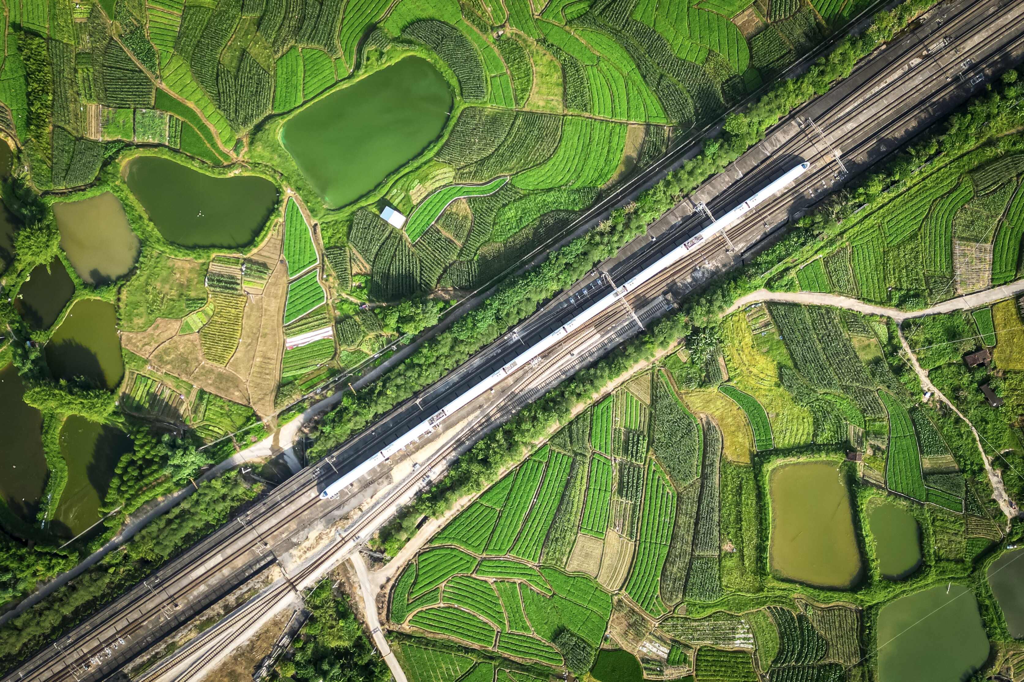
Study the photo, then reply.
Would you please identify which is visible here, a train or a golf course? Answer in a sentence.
I can see a train in this picture.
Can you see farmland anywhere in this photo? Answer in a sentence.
Yes, the picture does contain farmland.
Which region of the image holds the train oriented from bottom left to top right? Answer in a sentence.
The train oriented from bottom left to top right appears toward the center of the photo.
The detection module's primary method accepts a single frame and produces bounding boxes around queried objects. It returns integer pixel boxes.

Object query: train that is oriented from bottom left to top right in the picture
[321,162,809,498]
